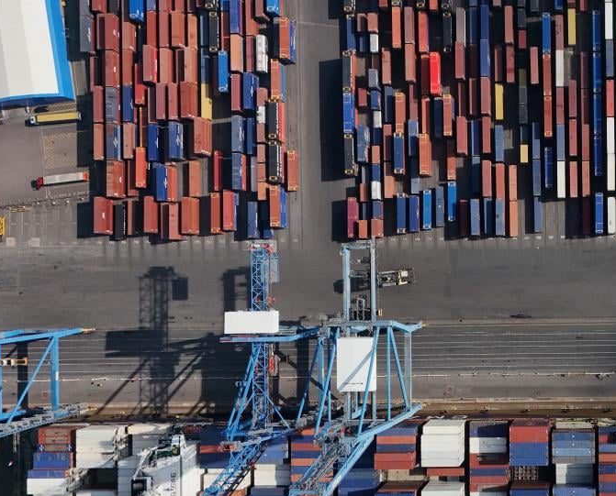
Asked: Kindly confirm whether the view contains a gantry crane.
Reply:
Yes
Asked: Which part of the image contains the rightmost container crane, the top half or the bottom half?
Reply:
bottom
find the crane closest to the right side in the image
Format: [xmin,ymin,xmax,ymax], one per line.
[294,237,429,496]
